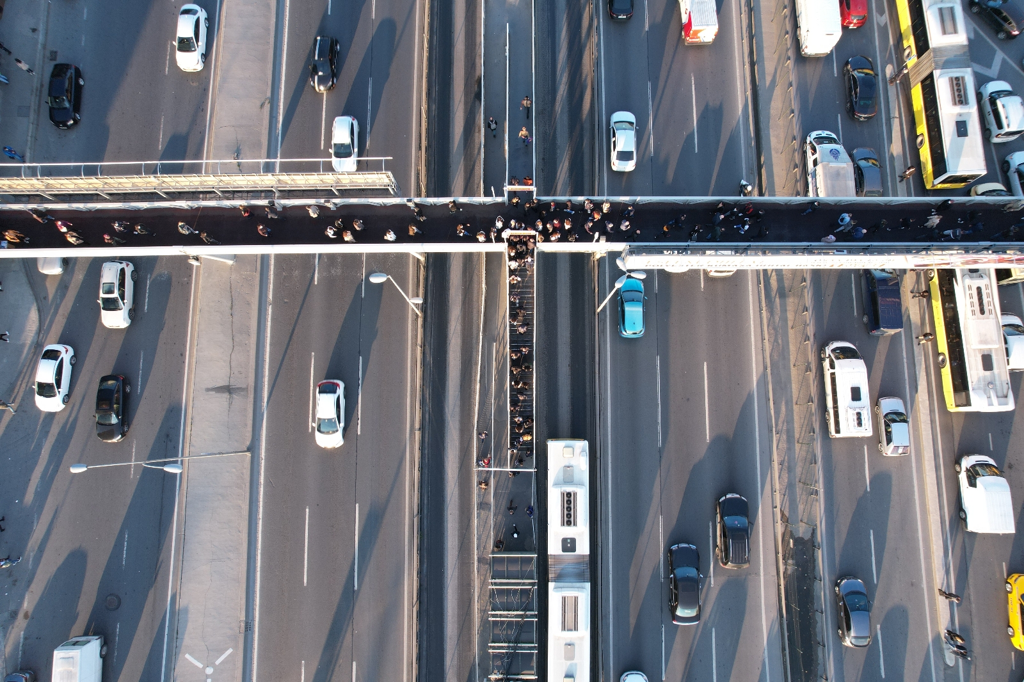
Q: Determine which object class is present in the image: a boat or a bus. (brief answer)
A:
bus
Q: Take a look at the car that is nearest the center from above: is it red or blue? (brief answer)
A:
blue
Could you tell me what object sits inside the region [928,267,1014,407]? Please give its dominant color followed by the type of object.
white bus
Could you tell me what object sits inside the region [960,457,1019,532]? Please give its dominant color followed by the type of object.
white van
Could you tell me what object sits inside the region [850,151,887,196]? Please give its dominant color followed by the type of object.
blue car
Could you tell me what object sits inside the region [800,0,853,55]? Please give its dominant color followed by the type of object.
white truck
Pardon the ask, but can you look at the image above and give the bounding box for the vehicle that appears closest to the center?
[616,281,649,337]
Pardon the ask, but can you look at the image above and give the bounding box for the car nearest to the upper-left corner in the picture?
[44,62,87,129]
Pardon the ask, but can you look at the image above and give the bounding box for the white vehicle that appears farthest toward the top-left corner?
[173,3,210,71]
